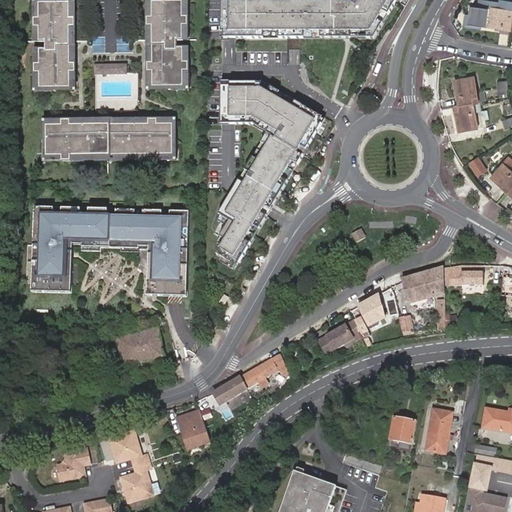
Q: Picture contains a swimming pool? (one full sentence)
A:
Yes, the image includes a swimming pool.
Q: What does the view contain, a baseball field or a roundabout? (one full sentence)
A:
Visible in the photo is a roundabout.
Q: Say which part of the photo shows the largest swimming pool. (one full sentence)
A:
The largest swimming pool appears toward the top left of the photo.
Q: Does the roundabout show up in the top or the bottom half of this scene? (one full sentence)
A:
Seen from above, the roundabout lies in the top half of the view.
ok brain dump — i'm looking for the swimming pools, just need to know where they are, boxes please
[219,404,232,418]
[96,73,138,110]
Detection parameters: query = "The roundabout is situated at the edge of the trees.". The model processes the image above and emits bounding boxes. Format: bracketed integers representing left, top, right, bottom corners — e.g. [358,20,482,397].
[342,108,440,206]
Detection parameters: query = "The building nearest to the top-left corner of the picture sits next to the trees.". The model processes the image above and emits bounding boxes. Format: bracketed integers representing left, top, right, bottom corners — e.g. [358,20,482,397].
[32,0,76,92]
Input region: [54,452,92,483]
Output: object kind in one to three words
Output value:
house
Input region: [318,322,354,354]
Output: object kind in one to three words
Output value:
house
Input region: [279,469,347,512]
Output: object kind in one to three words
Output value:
building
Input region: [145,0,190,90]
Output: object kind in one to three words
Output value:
building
